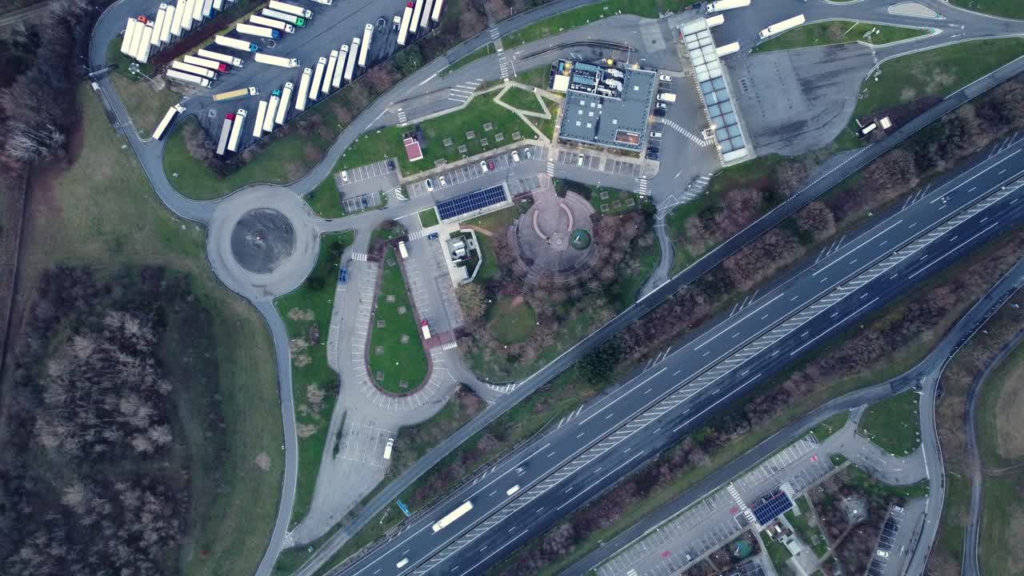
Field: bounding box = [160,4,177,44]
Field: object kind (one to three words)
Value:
vehicle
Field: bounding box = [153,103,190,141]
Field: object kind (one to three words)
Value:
truck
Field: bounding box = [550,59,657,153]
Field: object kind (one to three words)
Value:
building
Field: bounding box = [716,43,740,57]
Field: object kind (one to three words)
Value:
vehicle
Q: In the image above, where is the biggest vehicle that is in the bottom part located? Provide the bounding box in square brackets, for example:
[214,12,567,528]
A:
[432,500,474,532]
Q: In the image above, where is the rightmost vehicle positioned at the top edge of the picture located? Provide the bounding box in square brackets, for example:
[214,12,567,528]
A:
[756,14,806,42]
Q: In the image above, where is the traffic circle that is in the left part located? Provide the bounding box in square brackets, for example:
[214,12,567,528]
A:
[206,184,319,298]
